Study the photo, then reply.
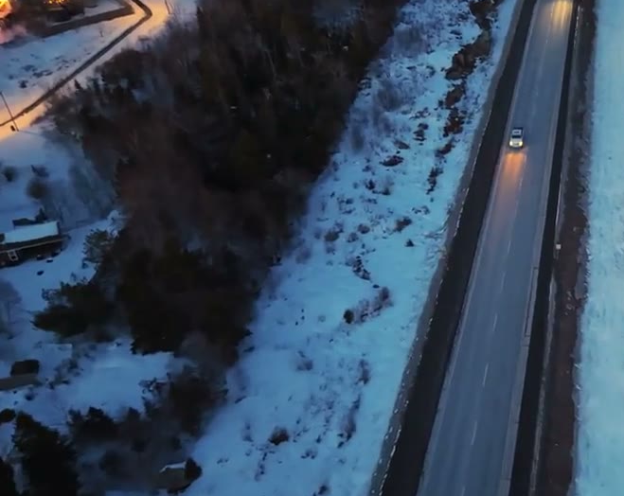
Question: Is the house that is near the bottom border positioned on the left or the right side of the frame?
left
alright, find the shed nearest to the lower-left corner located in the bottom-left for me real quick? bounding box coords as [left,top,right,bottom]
[0,355,46,392]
